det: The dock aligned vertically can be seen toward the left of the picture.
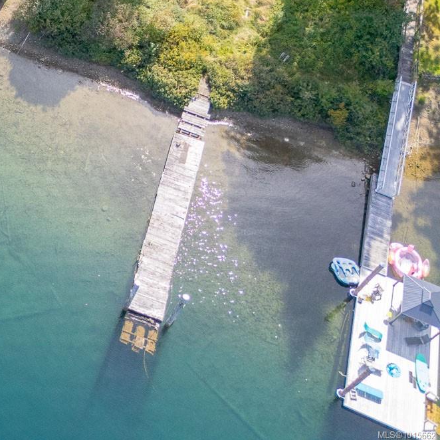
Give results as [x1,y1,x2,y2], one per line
[128,80,214,331]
